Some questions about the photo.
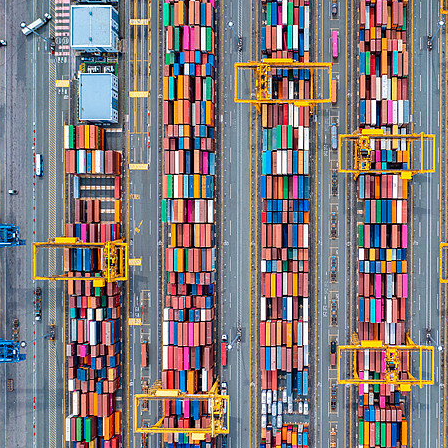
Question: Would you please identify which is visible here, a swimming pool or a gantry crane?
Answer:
gantry crane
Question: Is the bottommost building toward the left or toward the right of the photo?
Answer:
left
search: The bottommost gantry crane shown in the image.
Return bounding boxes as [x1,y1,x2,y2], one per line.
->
[134,377,229,442]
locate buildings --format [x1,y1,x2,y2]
[79,73,119,125]
[71,5,118,52]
